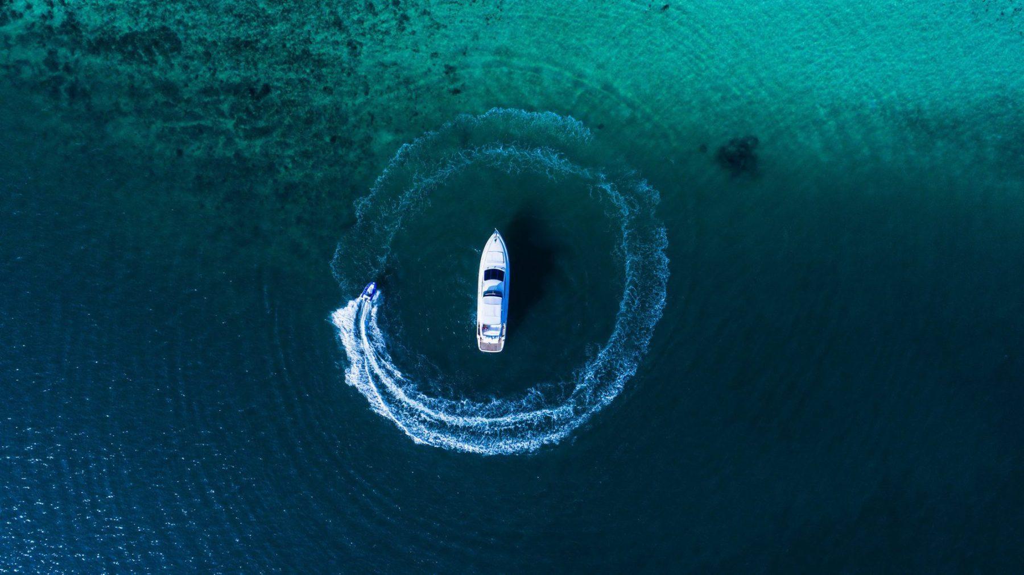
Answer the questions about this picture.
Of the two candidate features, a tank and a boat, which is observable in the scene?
boat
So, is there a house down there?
No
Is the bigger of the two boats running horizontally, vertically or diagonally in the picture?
vertically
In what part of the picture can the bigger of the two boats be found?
center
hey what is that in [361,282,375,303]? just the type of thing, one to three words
boat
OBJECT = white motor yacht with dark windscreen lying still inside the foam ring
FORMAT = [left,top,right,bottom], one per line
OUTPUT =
[477,226,510,353]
